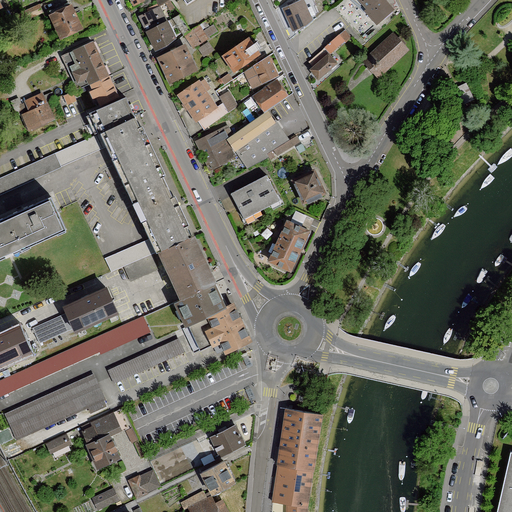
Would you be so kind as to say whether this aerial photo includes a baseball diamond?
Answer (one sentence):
No, I can see no baseball diamond in this picture.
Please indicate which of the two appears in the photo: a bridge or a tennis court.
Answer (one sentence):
Looking from above, you can make out a bridge.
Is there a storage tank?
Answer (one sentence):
No, there's no storage tank here.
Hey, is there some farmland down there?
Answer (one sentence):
No, there is no farmland in the image.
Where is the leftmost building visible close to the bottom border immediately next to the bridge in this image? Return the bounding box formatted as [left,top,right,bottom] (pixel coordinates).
[272,409,323,512]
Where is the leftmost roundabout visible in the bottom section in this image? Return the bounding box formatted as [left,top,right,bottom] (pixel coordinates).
[253,292,326,365]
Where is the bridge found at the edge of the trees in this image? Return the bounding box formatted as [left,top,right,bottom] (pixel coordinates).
[328,328,473,406]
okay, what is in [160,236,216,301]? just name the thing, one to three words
building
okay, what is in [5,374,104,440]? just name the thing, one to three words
shed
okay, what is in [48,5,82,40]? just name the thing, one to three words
house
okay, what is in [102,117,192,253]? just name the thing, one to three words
building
